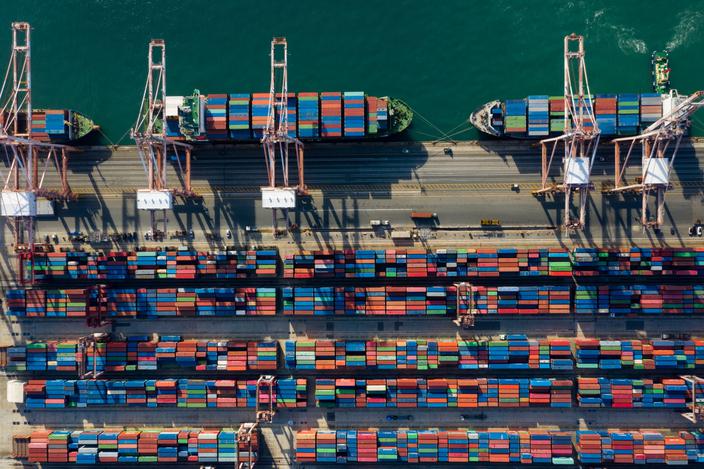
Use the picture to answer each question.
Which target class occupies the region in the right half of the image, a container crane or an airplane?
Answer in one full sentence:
Looking in the right half of the image, you will find a container crane.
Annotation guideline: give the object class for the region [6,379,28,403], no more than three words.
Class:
shed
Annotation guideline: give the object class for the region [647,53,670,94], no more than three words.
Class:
boat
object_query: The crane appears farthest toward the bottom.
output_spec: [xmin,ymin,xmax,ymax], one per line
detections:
[236,412,263,469]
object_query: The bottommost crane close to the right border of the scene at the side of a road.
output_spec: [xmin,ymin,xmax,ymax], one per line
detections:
[668,367,704,424]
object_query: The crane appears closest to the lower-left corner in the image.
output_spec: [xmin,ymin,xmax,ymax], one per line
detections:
[80,330,115,378]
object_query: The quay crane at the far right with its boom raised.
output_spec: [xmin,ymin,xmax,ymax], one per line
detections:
[597,86,704,229]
